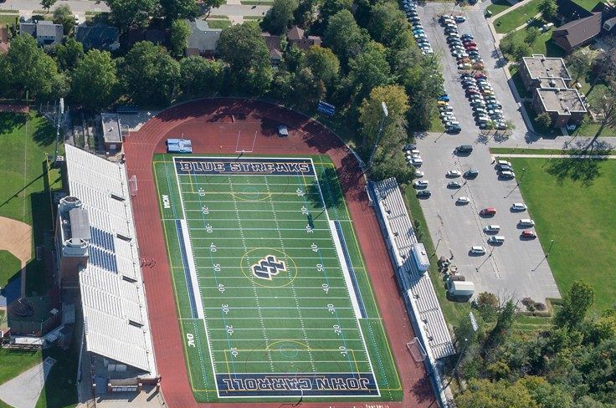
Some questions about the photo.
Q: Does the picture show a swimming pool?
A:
No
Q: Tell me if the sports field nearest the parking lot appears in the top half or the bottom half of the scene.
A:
bottom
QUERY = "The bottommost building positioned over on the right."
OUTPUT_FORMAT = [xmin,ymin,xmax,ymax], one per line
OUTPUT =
[517,52,588,132]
